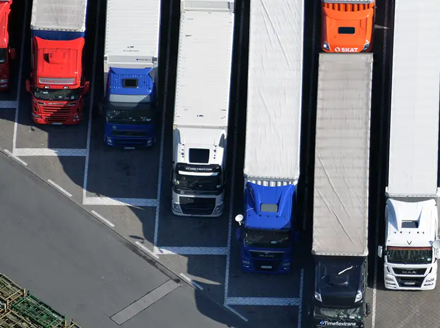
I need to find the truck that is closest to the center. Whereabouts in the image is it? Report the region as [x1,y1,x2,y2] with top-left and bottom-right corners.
[166,128,231,215]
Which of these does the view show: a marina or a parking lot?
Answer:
parking lot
